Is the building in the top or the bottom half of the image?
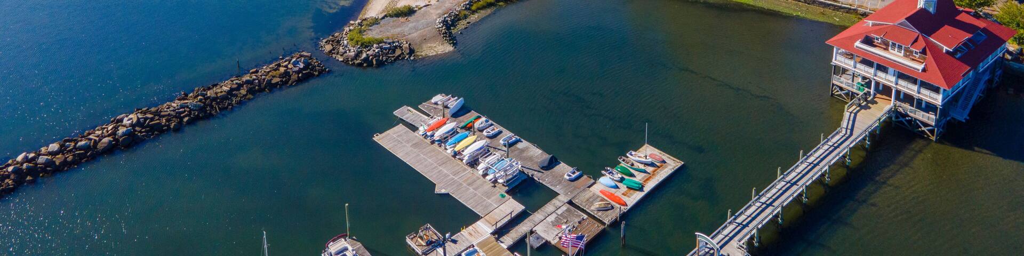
top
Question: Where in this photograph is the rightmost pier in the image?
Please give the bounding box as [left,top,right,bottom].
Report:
[684,84,904,256]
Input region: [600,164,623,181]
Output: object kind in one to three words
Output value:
boat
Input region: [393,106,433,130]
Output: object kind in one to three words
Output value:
pier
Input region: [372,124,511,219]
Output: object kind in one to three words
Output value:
pier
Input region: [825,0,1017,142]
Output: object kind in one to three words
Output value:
building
